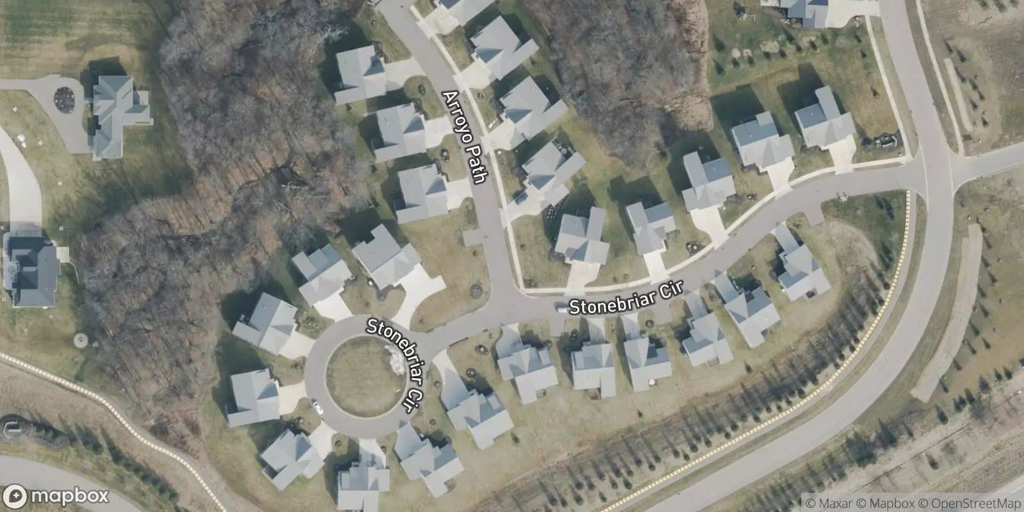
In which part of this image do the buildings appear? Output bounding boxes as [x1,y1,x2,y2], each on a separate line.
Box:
[401,444,468,505]
[337,464,389,512]
[261,430,335,499]
[776,244,832,300]
[622,334,672,392]
[286,244,349,304]
[326,46,387,105]
[570,344,616,397]
[469,16,539,80]
[366,103,427,162]
[232,292,297,354]
[495,343,559,404]
[777,0,833,28]
[556,205,612,265]
[791,85,857,151]
[9,238,60,307]
[92,76,151,159]
[729,110,797,171]
[680,153,738,212]
[498,76,568,140]
[387,164,448,222]
[221,368,281,427]
[434,0,495,26]
[623,200,677,257]
[446,391,513,453]
[520,142,591,219]
[722,287,780,348]
[351,223,422,290]
[681,312,733,368]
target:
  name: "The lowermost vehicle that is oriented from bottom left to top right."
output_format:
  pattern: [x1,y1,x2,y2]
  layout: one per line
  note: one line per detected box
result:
[514,190,529,204]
